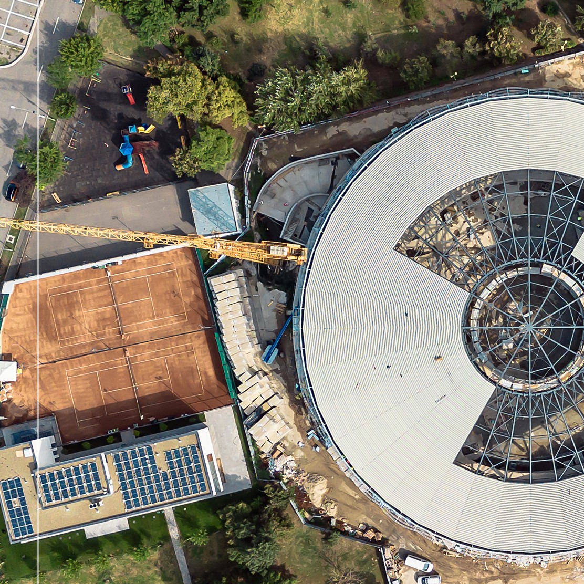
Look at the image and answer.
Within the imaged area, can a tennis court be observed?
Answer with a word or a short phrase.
Yes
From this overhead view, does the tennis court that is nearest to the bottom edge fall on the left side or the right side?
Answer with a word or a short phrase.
left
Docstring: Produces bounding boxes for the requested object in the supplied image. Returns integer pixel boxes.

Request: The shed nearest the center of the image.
[188,183,243,237]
